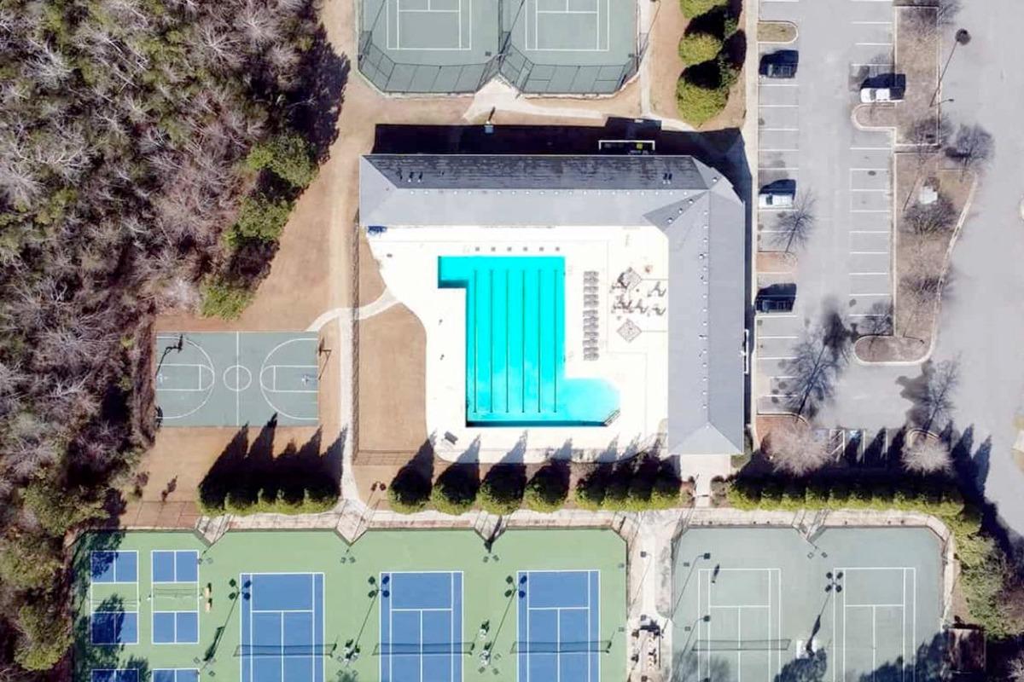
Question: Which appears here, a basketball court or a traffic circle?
basketball court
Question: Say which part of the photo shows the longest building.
center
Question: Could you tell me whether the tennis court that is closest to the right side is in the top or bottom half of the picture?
bottom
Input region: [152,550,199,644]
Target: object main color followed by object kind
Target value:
blue sports court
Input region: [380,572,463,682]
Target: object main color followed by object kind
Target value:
blue tennis court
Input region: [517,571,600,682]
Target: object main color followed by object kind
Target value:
blue tennis court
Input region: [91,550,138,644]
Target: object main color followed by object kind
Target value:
blue sports court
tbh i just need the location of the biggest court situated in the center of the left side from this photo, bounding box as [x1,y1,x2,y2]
[156,332,319,427]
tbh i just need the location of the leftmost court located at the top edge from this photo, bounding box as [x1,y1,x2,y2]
[387,0,471,49]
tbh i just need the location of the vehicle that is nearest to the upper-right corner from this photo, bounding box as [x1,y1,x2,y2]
[861,86,906,104]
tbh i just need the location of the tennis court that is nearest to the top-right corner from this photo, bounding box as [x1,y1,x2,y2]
[525,0,609,50]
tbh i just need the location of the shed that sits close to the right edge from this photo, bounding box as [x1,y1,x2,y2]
[948,630,984,670]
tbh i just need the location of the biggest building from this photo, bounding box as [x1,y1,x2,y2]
[360,154,745,455]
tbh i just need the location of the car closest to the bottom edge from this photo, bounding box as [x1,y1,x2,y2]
[756,295,794,313]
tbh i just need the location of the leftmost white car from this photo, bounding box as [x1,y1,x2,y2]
[758,192,795,210]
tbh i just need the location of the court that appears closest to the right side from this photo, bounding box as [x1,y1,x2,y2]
[834,568,915,682]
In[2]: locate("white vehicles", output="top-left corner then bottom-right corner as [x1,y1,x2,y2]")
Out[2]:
[758,192,795,210]
[861,86,906,104]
